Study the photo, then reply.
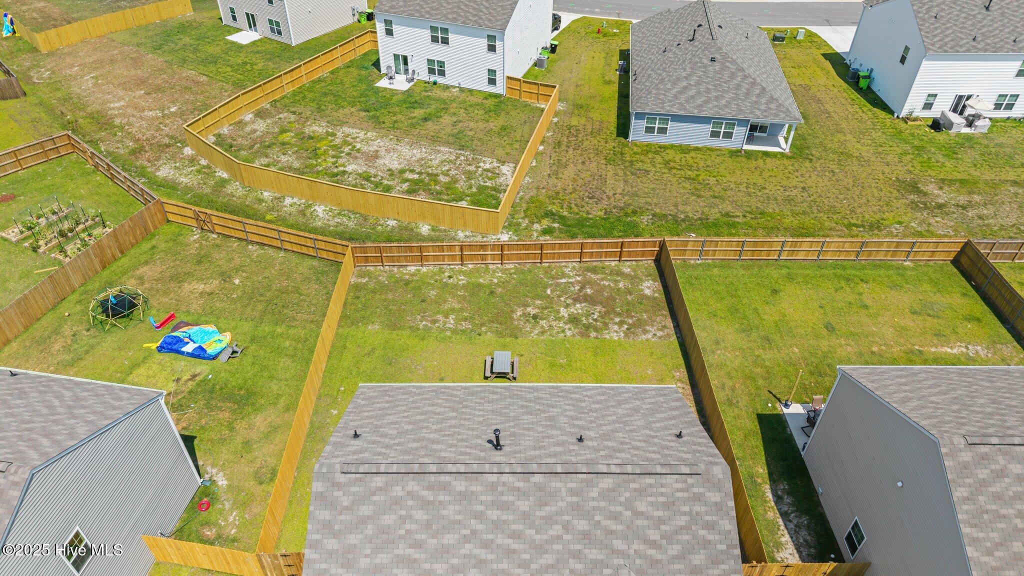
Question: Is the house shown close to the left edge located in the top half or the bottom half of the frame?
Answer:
bottom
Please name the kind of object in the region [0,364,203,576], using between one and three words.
house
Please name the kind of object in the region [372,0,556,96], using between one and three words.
house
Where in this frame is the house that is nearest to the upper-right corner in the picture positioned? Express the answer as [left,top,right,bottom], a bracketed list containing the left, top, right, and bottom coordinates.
[845,0,1024,118]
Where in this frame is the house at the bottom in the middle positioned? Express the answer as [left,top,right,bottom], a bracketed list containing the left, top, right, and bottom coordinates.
[297,382,741,576]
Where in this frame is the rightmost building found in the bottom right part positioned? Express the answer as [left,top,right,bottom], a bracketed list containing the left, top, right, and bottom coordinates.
[802,365,1024,576]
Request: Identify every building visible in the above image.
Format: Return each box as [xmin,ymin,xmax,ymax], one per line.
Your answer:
[802,365,1024,576]
[845,0,1024,118]
[297,382,741,576]
[0,364,203,576]
[372,0,556,96]
[628,0,805,151]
